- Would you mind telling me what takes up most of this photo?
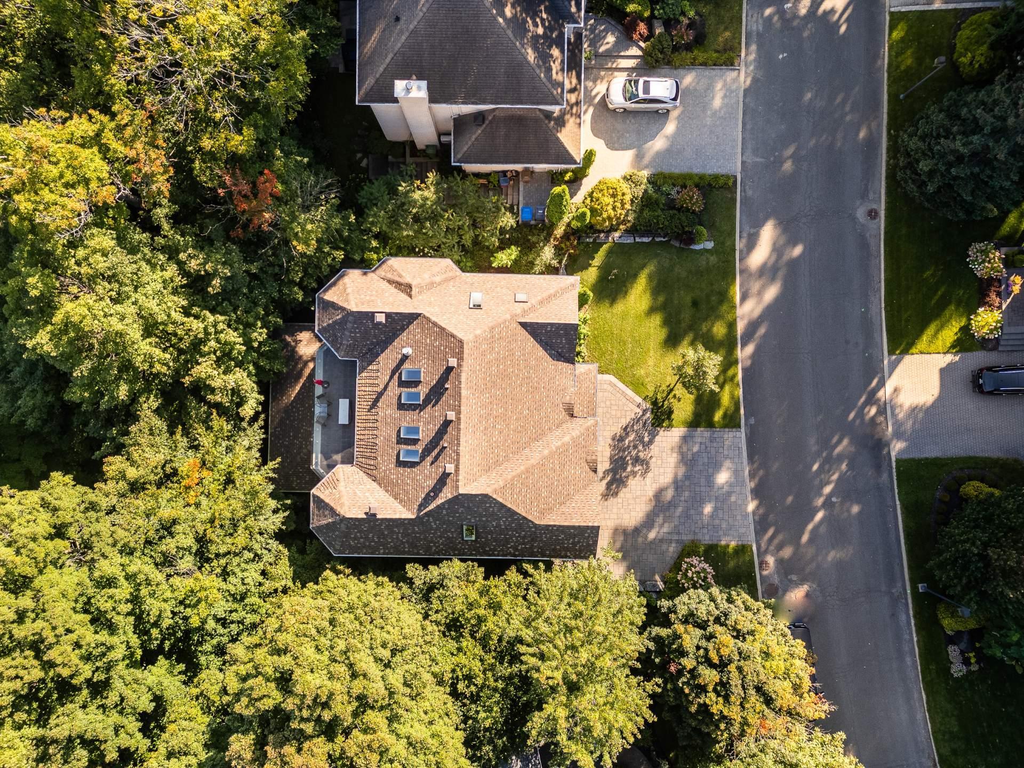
trees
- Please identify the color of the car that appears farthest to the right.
black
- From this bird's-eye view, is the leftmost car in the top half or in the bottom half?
top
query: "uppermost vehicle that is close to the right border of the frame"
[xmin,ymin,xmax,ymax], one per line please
[964,364,1024,395]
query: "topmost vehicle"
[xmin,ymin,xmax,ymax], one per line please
[604,77,680,117]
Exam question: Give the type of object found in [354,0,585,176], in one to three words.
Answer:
house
